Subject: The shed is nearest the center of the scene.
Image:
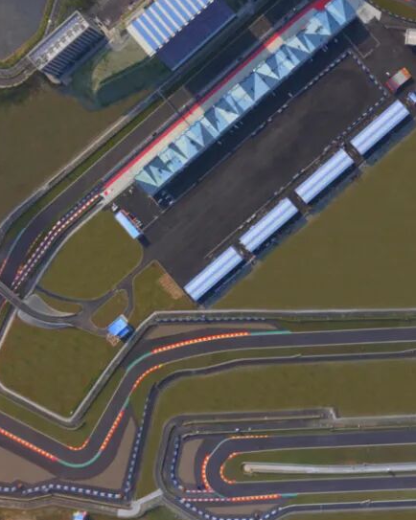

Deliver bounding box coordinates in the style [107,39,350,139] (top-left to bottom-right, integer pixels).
[186,246,242,302]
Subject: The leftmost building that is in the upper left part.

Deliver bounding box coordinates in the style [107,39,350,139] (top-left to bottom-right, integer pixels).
[28,10,112,92]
